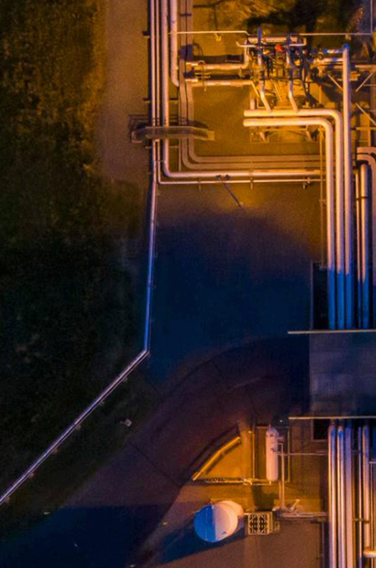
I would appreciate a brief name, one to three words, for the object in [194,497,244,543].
storage tank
